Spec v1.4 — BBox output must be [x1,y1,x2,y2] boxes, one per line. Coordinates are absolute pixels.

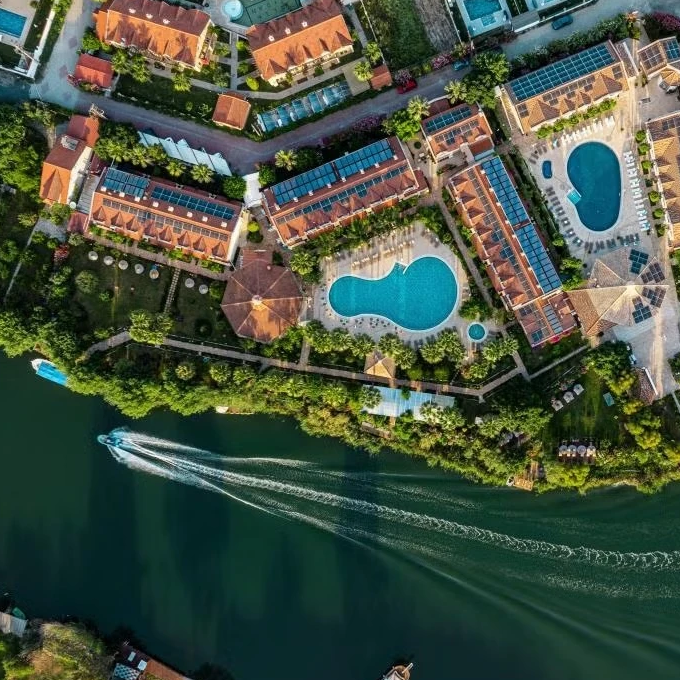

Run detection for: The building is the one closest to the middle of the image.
[364,352,396,379]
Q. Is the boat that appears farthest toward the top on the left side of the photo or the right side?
left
